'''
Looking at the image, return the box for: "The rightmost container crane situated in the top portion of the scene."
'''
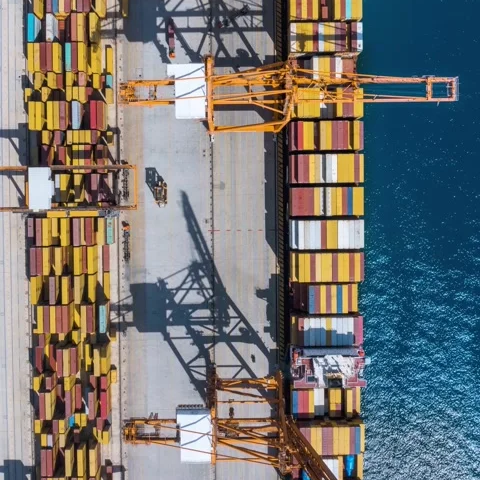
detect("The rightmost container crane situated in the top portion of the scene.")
[118,57,459,136]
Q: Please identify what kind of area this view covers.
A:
port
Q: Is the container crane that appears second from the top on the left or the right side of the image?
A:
left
